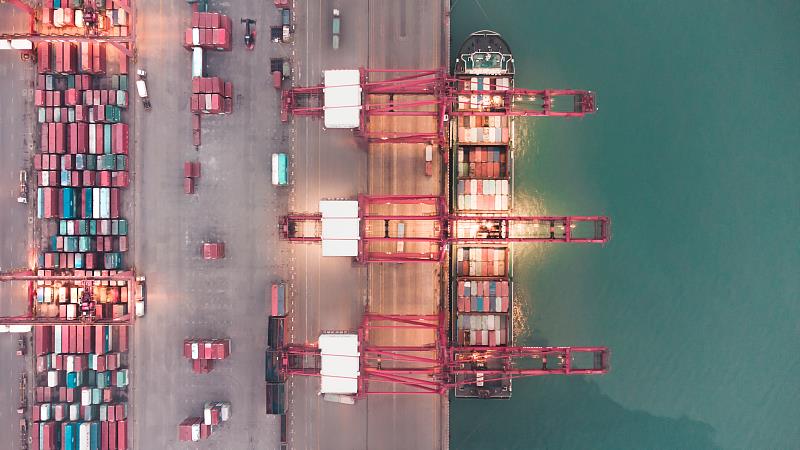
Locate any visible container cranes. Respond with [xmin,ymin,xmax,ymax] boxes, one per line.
[0,0,135,59]
[280,69,600,160]
[280,194,613,264]
[0,268,135,330]
[280,303,613,398]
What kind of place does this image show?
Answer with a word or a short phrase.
port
